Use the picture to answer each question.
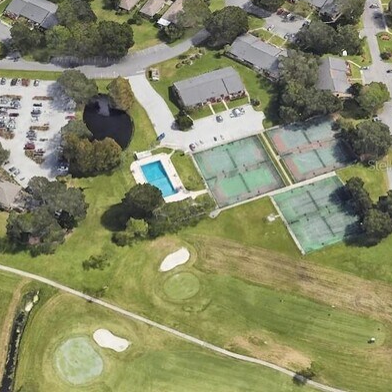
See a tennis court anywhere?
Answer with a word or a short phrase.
Yes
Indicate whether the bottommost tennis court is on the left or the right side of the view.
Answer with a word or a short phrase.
right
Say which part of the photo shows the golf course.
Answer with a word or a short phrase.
bottom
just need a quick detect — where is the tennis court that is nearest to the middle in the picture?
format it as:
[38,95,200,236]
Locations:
[190,136,288,206]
